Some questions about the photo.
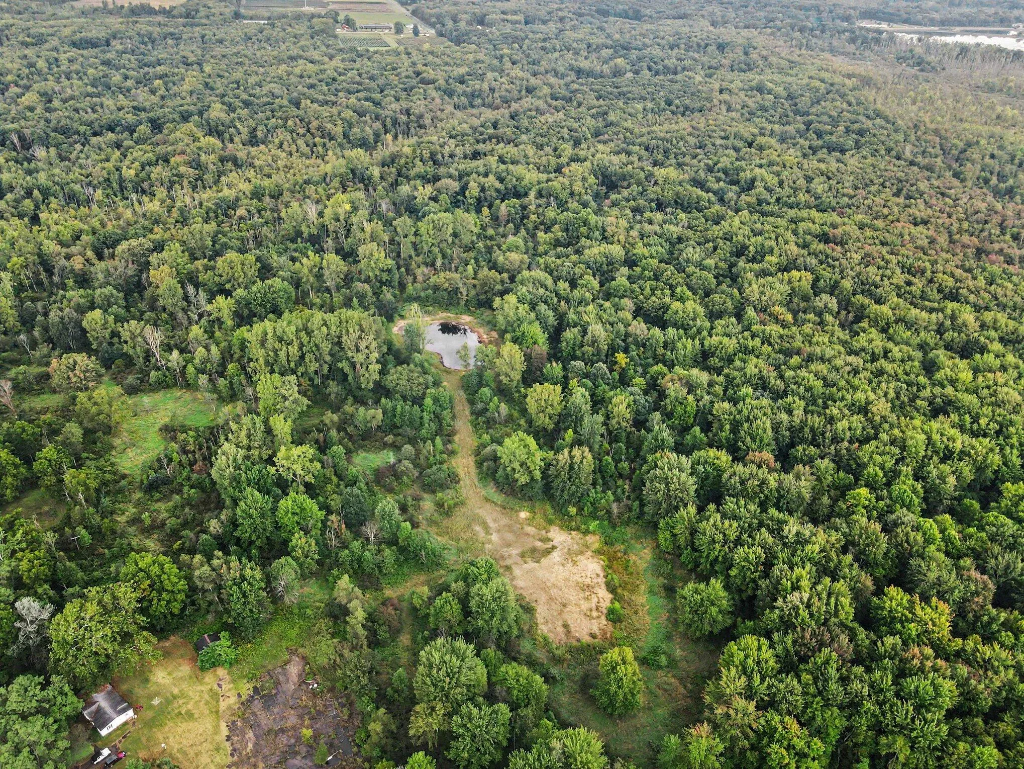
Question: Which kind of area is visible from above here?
forest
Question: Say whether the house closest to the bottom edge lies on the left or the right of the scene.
left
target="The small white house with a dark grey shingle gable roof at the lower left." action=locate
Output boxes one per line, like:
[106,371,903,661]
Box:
[83,684,133,735]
